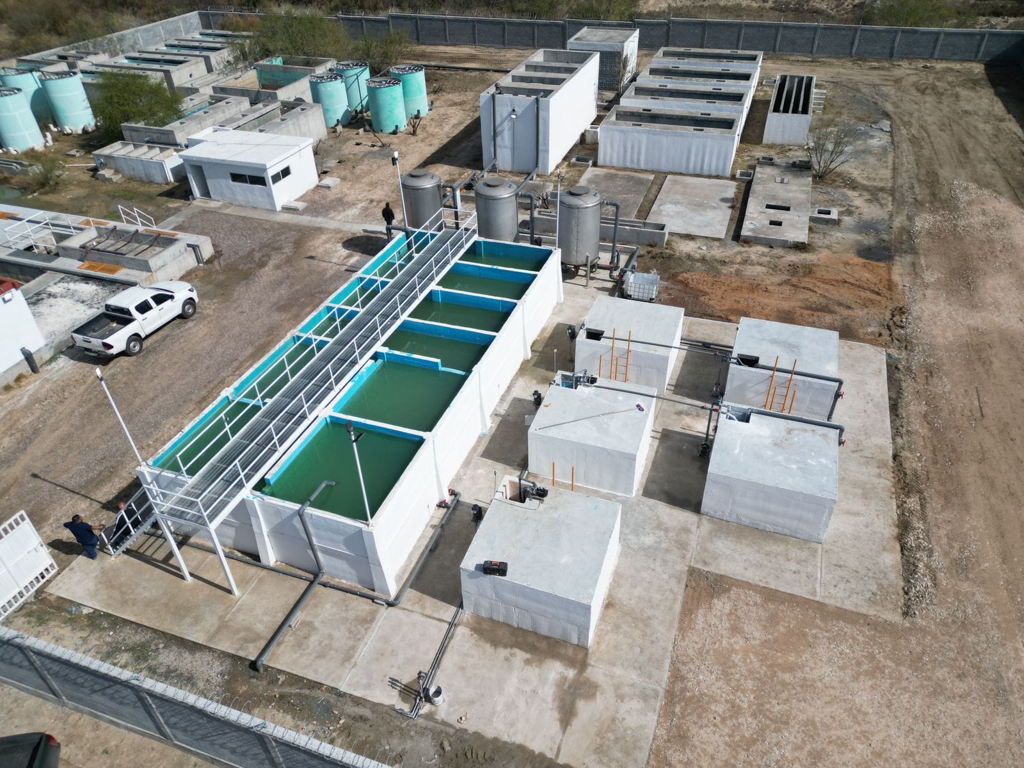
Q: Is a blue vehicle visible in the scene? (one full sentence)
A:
No, the picture doesn't show any blue vehicle.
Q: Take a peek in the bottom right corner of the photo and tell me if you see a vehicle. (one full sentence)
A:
No, in the bottom right corner of the photo there is no vehicle.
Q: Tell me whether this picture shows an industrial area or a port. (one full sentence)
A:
The area seen from above is an industrial area.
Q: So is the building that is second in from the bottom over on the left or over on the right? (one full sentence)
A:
It is on the left.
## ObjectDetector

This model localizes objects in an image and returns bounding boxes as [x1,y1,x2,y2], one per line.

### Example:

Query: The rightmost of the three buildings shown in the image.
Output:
[567,26,640,90]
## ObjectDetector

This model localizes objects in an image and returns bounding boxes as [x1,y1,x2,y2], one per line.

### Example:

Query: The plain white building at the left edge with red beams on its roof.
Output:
[0,276,42,369]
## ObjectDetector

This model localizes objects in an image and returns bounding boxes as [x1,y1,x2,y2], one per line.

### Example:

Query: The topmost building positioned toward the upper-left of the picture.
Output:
[176,125,319,211]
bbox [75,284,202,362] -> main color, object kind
white truck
